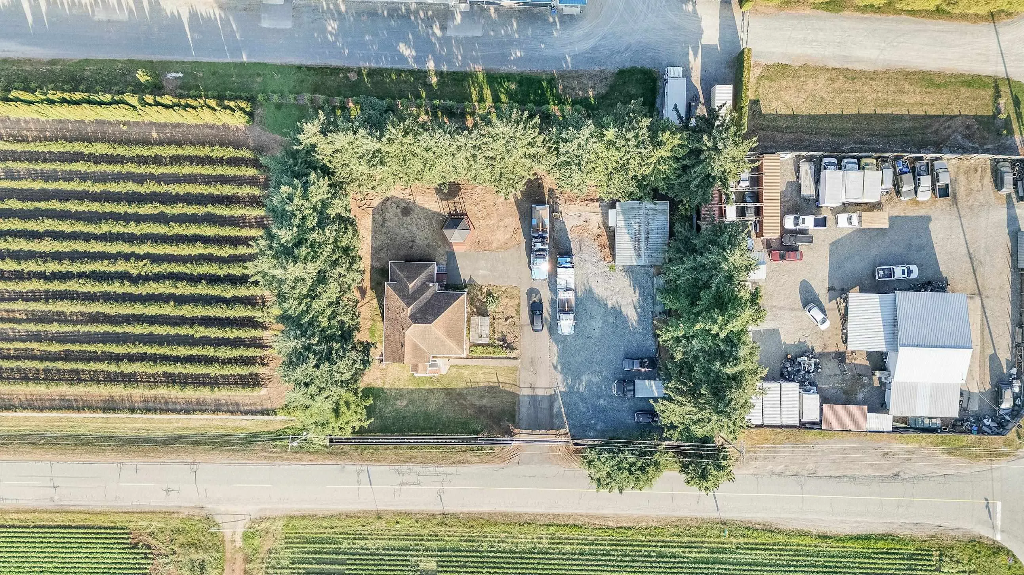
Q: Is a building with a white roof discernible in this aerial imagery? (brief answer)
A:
Yes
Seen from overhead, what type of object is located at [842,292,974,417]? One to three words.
building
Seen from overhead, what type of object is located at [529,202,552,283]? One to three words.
truck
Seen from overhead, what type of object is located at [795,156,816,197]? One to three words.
trailer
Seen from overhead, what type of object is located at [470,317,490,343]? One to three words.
greenhouse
